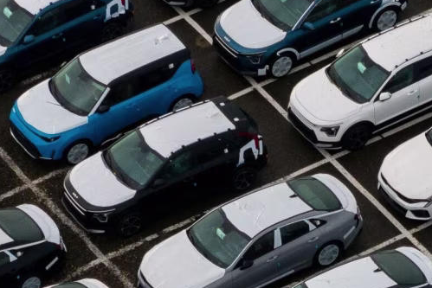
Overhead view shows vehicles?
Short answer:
Yes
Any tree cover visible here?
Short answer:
No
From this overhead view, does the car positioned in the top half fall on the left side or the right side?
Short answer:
left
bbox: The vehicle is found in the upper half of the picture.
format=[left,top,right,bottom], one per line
[9,21,204,166]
